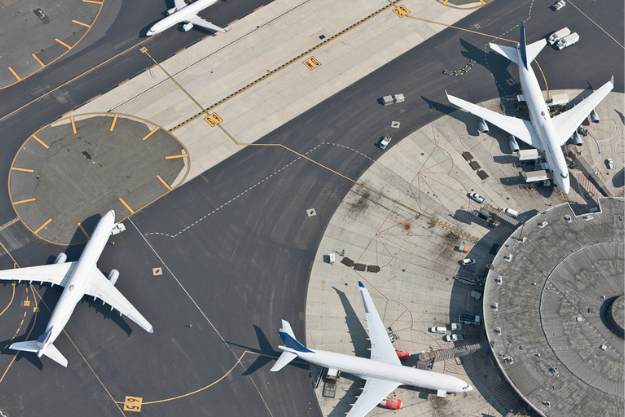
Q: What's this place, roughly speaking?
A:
airport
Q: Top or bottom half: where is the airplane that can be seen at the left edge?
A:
bottom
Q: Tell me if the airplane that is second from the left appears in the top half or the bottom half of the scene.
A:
top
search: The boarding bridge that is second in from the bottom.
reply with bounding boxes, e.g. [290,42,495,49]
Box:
[482,201,525,233]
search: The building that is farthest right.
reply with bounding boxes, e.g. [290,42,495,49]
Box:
[483,197,625,417]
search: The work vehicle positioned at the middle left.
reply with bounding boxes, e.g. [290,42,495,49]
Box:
[112,222,128,236]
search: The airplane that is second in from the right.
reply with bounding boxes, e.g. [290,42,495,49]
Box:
[272,280,470,417]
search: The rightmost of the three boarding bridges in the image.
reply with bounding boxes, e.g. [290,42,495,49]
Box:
[562,145,617,197]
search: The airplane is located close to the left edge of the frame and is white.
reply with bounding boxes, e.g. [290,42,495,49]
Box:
[0,212,154,366]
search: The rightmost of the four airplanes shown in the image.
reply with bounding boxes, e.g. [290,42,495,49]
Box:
[446,23,616,197]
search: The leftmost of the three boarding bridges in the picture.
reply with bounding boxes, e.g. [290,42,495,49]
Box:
[414,341,488,372]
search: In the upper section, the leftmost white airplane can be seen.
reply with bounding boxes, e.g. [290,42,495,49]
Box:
[146,0,231,37]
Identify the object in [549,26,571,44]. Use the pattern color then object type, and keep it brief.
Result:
white vehicle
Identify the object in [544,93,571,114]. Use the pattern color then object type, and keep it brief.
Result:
white vehicle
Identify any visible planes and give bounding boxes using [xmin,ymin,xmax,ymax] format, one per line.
[272,280,470,417]
[146,0,231,37]
[446,23,616,197]
[0,212,154,366]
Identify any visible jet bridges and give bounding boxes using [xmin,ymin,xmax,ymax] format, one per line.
[414,341,488,372]
[562,145,617,197]
[482,201,525,233]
